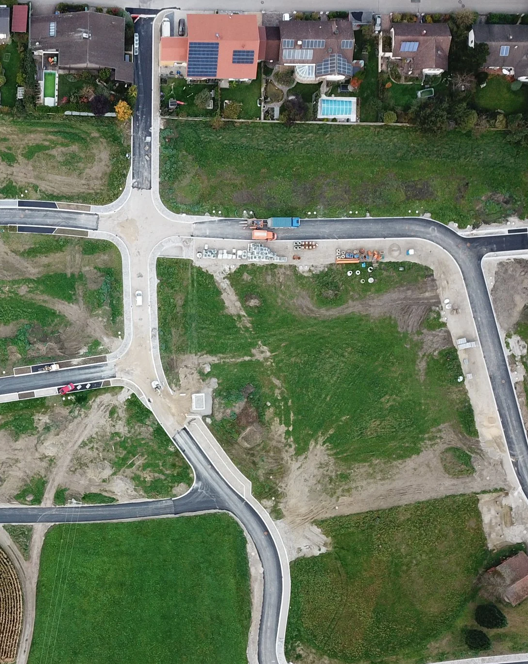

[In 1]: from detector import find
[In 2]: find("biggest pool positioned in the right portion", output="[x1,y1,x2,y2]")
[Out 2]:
[320,99,352,115]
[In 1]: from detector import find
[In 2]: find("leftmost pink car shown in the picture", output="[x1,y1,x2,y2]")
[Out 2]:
[59,382,74,396]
